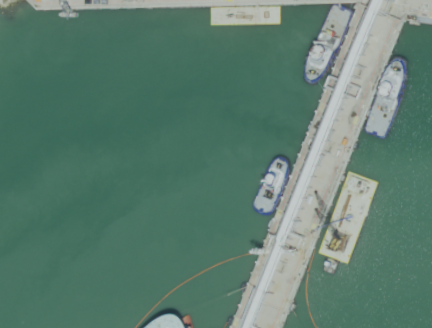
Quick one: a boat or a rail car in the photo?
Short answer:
boat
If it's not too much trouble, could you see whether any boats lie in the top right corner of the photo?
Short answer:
Yes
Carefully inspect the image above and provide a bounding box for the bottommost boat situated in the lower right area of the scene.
[325,258,338,275]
